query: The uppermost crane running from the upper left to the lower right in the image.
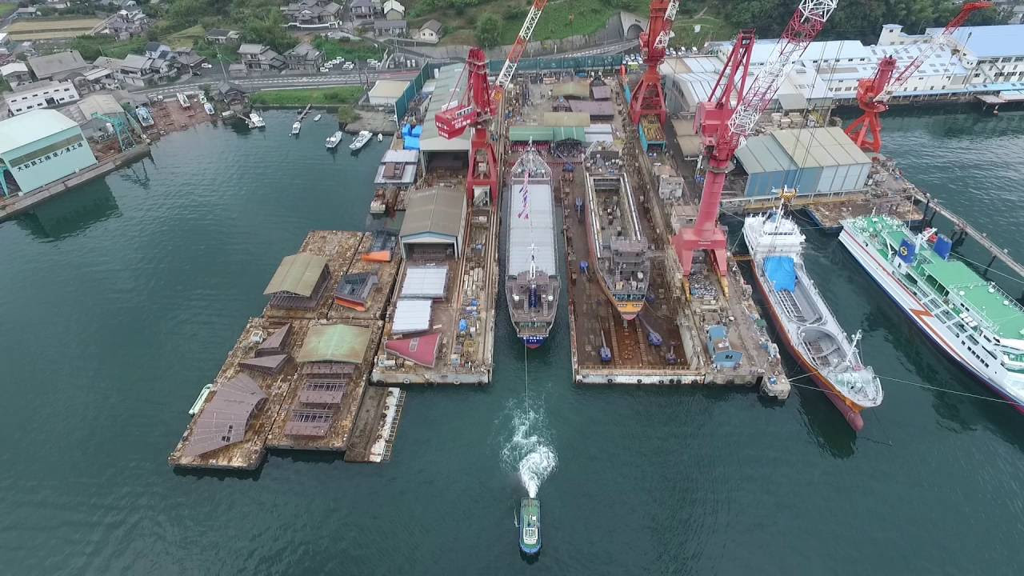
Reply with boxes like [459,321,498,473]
[78,88,140,148]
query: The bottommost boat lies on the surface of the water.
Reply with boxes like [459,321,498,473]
[517,495,542,552]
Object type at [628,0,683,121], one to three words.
crane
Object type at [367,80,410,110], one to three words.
house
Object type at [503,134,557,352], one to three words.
ship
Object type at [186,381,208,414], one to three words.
boat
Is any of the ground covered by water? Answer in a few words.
Yes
